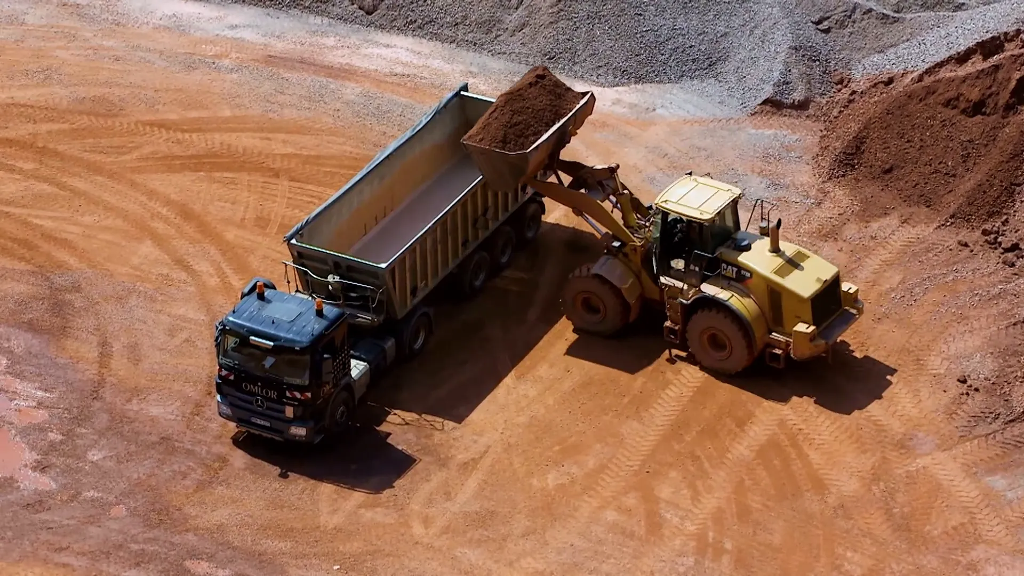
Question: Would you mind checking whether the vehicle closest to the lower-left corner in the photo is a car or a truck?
truck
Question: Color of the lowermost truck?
black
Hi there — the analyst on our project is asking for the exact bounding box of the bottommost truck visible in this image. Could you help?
[214,277,436,449]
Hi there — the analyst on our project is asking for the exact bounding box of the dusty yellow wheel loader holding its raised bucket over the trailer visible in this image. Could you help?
[461,94,869,378]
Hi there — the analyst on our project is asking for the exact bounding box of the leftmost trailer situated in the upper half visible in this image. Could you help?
[276,83,552,331]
